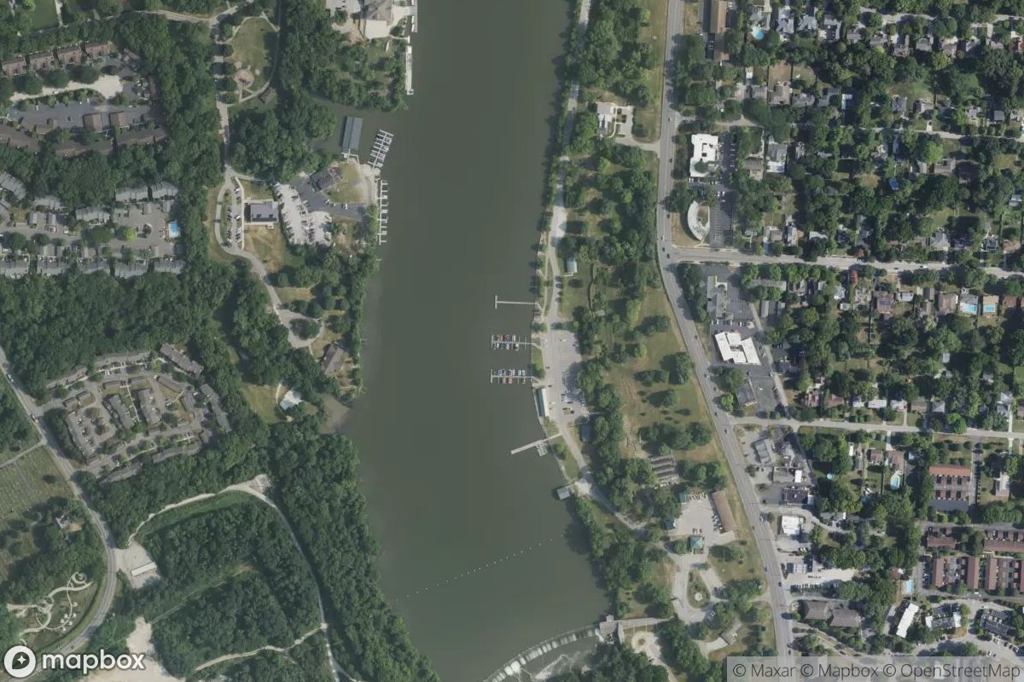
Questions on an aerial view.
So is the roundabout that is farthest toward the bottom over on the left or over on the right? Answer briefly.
right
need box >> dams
[481,623,600,682]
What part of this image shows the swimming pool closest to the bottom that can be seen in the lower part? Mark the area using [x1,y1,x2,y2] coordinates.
[902,578,914,595]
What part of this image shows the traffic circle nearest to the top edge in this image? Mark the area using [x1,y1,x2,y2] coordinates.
[278,309,325,348]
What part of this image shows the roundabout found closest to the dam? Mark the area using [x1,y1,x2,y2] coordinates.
[673,556,724,625]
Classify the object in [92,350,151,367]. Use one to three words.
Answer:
building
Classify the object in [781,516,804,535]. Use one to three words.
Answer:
building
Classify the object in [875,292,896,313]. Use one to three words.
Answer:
house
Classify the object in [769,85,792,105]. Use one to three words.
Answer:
house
